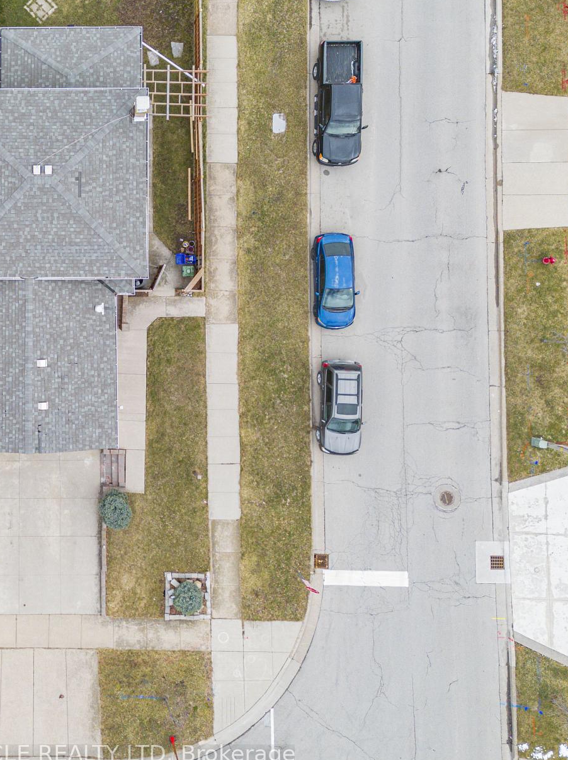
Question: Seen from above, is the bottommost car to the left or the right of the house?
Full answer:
To the right of the house is where the bottommost car appears.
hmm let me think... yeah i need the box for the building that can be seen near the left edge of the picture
[0,24,200,453]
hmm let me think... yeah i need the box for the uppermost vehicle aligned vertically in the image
[311,40,364,165]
